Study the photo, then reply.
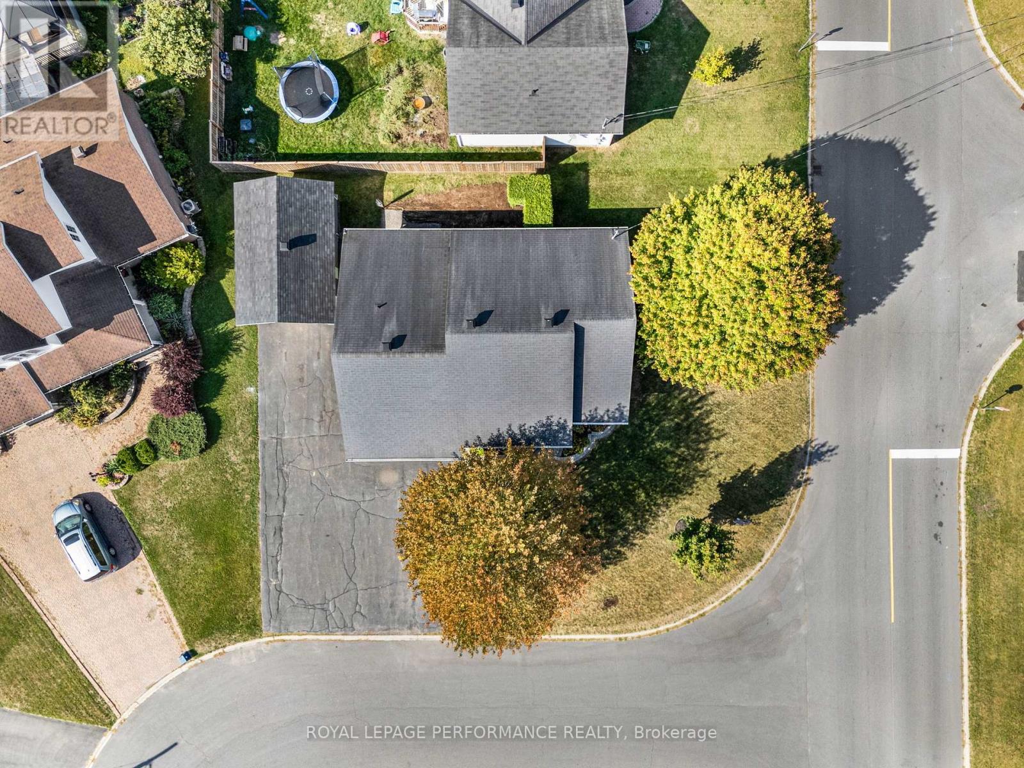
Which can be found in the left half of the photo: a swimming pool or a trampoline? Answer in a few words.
trampoline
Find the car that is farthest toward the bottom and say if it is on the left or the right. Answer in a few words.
left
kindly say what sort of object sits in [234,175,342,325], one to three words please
building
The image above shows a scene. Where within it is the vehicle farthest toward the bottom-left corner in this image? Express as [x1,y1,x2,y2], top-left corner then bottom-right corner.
[55,498,115,583]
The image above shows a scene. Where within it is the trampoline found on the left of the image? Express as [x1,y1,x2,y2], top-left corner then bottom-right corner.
[274,49,342,126]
